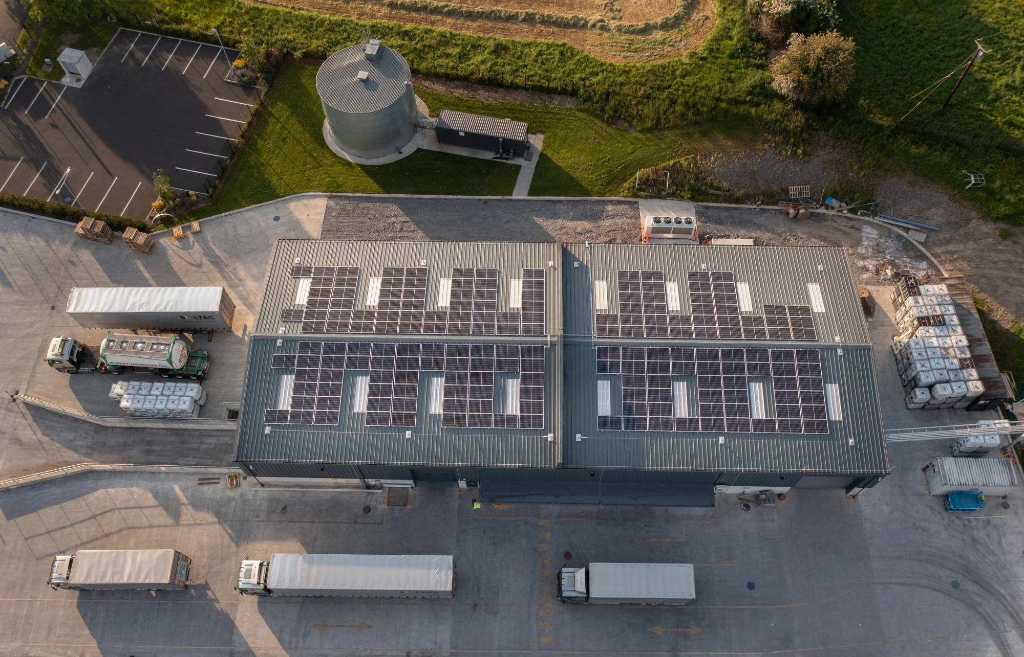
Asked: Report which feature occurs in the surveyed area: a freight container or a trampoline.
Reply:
freight container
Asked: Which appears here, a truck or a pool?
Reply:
truck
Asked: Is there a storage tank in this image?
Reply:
Yes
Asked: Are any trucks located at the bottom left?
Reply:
Yes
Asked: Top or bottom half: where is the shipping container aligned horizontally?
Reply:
bottom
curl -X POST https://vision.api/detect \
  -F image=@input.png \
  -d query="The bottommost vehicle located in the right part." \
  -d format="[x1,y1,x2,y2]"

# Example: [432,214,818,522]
[555,562,696,606]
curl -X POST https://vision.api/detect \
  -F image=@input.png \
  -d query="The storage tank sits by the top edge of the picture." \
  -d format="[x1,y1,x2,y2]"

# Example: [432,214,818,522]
[316,28,437,161]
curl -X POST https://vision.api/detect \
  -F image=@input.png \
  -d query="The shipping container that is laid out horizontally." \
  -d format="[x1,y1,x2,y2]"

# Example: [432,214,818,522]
[918,458,1019,495]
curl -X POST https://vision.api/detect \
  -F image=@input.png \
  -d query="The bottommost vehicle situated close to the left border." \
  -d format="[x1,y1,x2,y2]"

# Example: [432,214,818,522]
[49,549,198,594]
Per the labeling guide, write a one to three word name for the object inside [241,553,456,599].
truck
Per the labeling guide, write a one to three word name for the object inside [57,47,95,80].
shed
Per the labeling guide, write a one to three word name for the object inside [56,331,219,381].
truck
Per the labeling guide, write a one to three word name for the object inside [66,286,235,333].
trailer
